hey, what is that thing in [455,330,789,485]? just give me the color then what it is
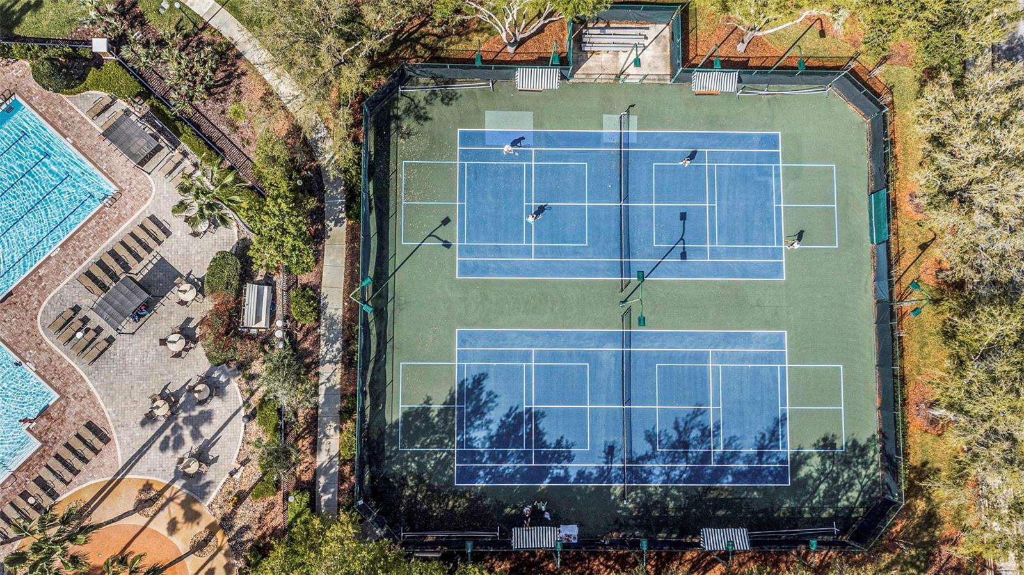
blue tennis court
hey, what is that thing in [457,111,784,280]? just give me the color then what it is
blue tennis court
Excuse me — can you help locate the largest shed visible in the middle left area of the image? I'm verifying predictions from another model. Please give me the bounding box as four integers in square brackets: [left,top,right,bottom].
[241,284,277,332]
